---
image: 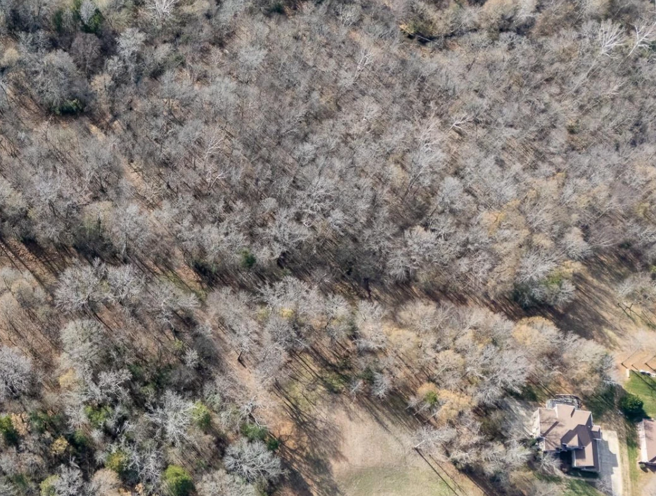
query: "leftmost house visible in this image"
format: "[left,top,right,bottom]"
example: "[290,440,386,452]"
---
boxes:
[532,404,601,475]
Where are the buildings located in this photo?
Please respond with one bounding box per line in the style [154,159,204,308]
[532,404,601,475]
[637,417,656,465]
